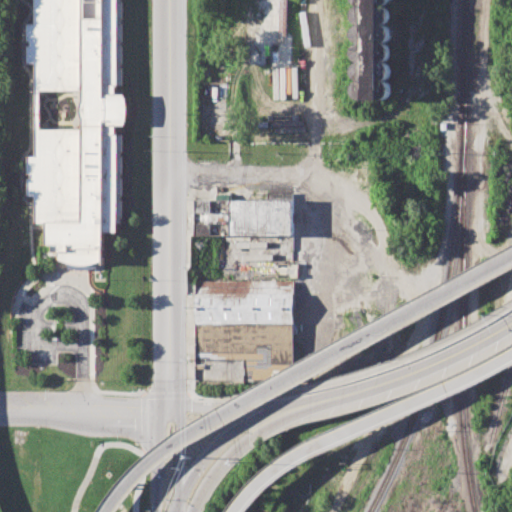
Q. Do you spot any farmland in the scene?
No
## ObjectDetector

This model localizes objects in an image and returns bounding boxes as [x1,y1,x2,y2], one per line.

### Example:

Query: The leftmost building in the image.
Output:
[26,0,129,274]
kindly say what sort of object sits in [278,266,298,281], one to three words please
shed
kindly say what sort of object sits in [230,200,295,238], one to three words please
building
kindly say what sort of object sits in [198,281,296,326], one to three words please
building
